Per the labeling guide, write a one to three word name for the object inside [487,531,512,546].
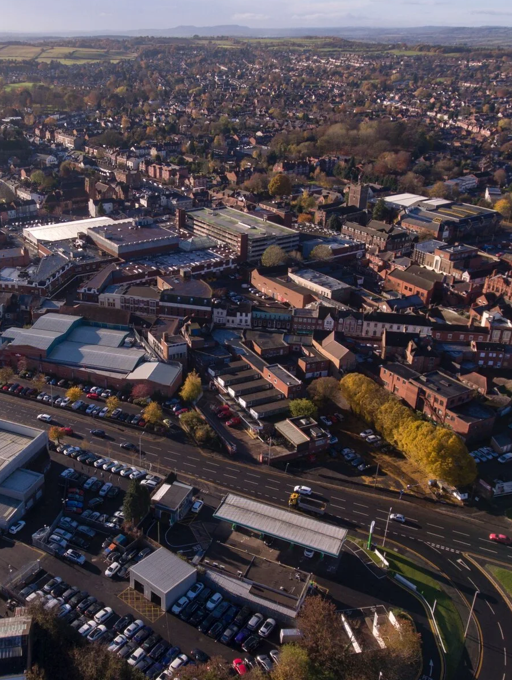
car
